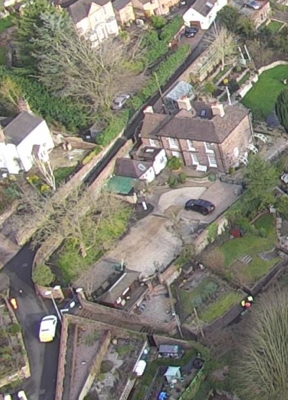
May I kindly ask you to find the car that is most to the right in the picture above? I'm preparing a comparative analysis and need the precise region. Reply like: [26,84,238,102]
[184,193,214,212]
